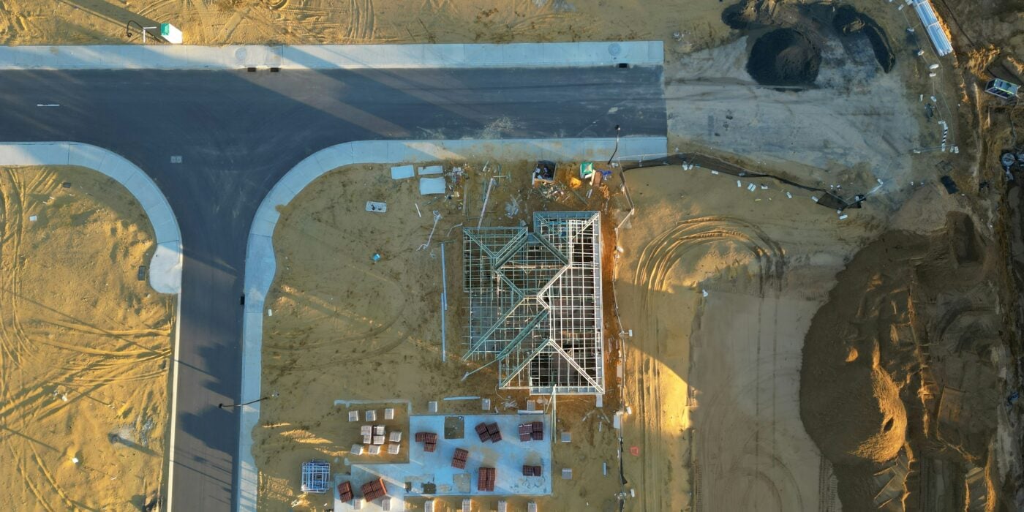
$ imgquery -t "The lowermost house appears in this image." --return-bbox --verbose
[462,211,604,393]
